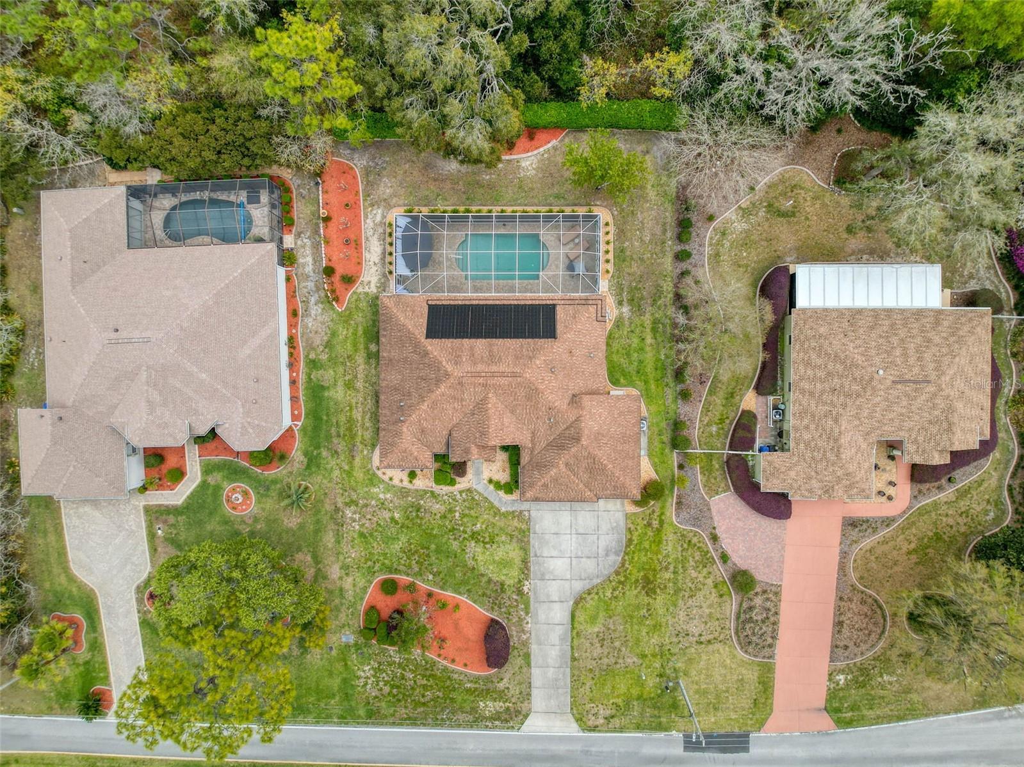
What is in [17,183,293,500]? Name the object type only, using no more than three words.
house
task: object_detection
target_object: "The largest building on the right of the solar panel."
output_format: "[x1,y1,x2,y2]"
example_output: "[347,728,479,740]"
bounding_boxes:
[753,263,992,501]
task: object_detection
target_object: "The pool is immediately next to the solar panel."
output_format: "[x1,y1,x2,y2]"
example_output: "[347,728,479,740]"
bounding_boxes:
[455,233,551,282]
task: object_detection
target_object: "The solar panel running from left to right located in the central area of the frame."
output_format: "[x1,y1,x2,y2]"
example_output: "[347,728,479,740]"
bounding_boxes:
[426,299,606,338]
